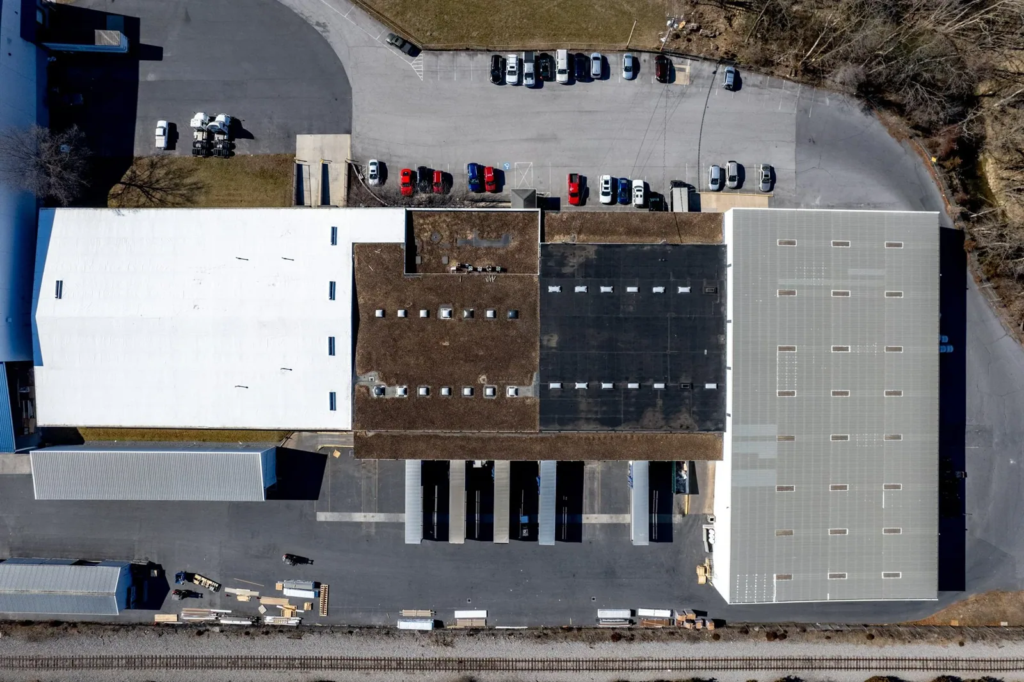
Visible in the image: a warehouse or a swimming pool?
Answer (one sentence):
The image shows a warehouse.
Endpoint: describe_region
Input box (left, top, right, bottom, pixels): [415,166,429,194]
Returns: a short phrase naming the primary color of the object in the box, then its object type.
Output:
black car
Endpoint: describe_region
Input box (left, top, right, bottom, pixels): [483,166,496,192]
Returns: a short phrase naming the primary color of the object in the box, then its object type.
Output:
red vehicle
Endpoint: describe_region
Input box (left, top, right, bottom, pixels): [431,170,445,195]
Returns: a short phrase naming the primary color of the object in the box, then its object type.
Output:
red car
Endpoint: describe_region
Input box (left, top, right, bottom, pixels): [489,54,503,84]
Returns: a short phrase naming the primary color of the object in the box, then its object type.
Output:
black car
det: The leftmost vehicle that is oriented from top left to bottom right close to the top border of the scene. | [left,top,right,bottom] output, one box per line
[386,31,421,60]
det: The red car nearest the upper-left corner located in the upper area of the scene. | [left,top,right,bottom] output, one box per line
[400,168,413,197]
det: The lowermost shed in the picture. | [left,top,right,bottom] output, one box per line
[0,559,132,616]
